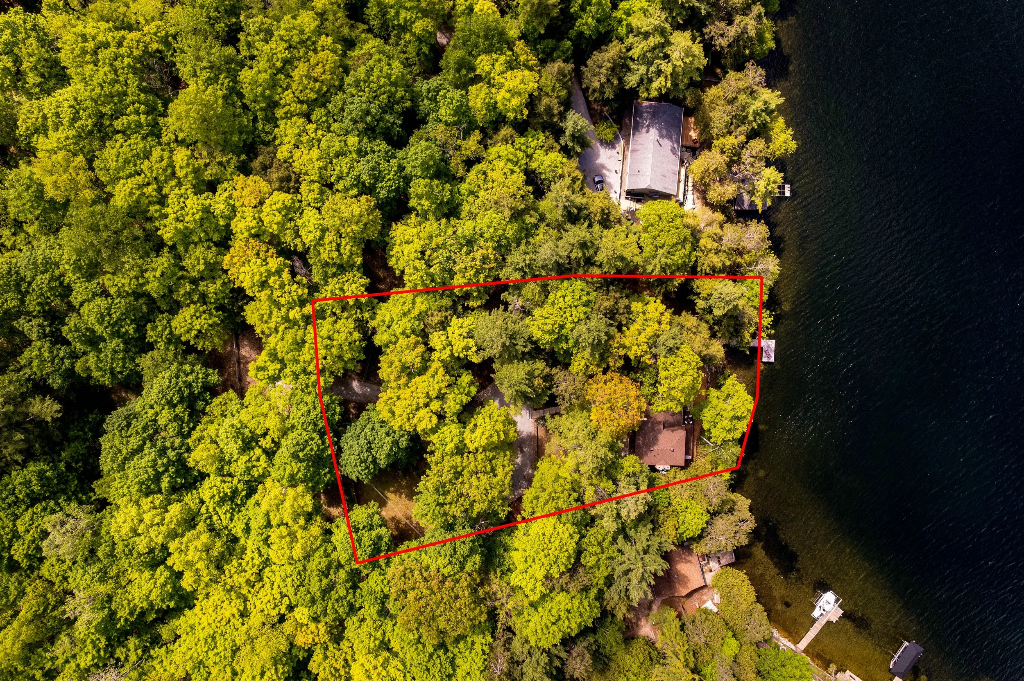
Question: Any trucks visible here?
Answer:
No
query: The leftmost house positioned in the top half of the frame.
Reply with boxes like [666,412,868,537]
[623,100,684,207]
